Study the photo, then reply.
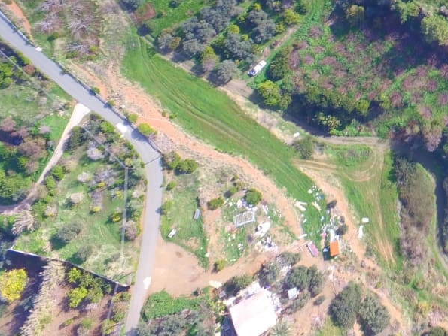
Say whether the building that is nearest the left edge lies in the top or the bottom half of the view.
bottom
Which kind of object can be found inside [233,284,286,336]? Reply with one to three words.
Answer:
building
